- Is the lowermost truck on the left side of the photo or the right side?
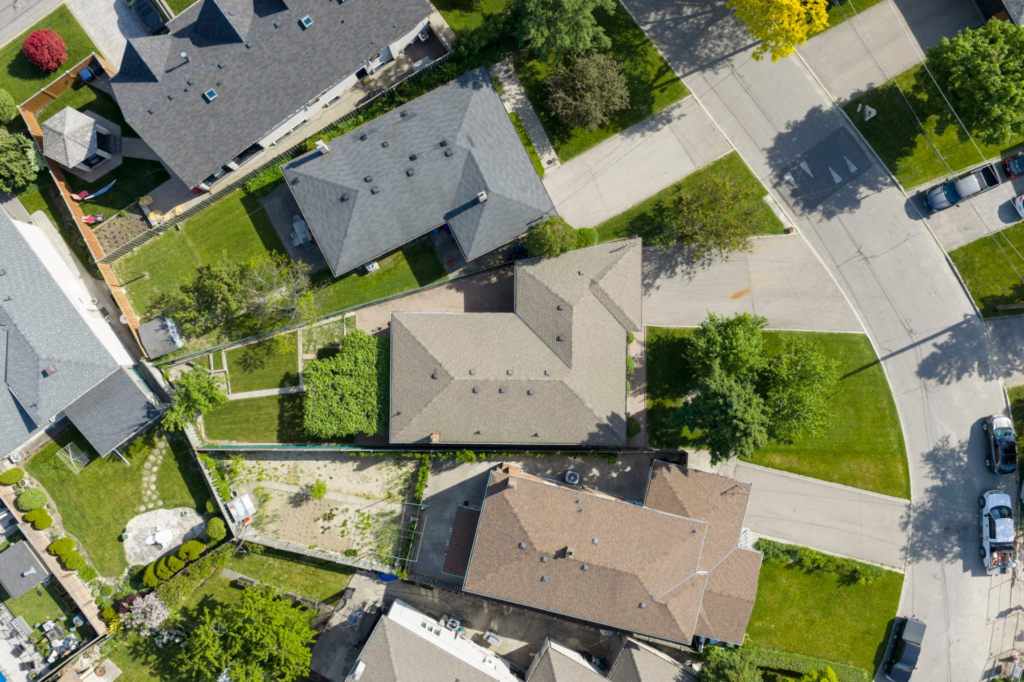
right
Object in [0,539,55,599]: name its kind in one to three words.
shed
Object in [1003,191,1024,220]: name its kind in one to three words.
car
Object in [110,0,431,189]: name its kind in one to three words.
house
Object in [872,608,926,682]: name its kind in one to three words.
truck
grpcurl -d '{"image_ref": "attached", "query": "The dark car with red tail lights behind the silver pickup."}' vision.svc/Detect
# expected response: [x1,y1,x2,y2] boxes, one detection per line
[997,149,1024,181]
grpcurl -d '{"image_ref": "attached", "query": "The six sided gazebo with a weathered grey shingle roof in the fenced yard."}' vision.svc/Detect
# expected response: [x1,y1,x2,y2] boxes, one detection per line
[41,105,121,173]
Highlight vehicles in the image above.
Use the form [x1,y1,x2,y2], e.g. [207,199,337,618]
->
[997,149,1024,181]
[918,161,1004,213]
[872,608,926,682]
[974,490,1018,575]
[978,411,1022,477]
[1003,191,1024,220]
[130,0,179,35]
